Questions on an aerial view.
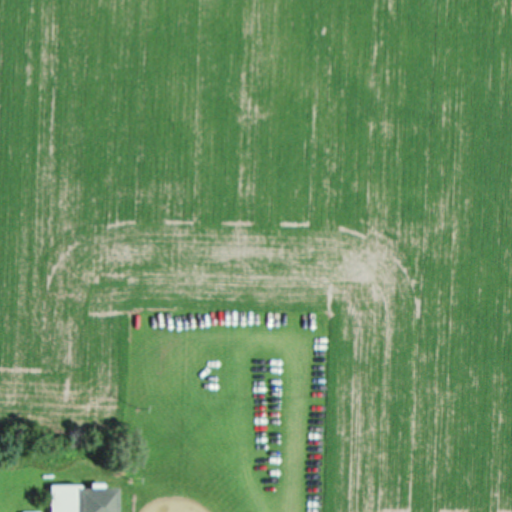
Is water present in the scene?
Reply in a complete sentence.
No, the scene doesn't show any water.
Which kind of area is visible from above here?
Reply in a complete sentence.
The area seen from above is farmland.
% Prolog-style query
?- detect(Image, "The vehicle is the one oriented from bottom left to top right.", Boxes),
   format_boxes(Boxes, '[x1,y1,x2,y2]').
[196,366,213,380]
